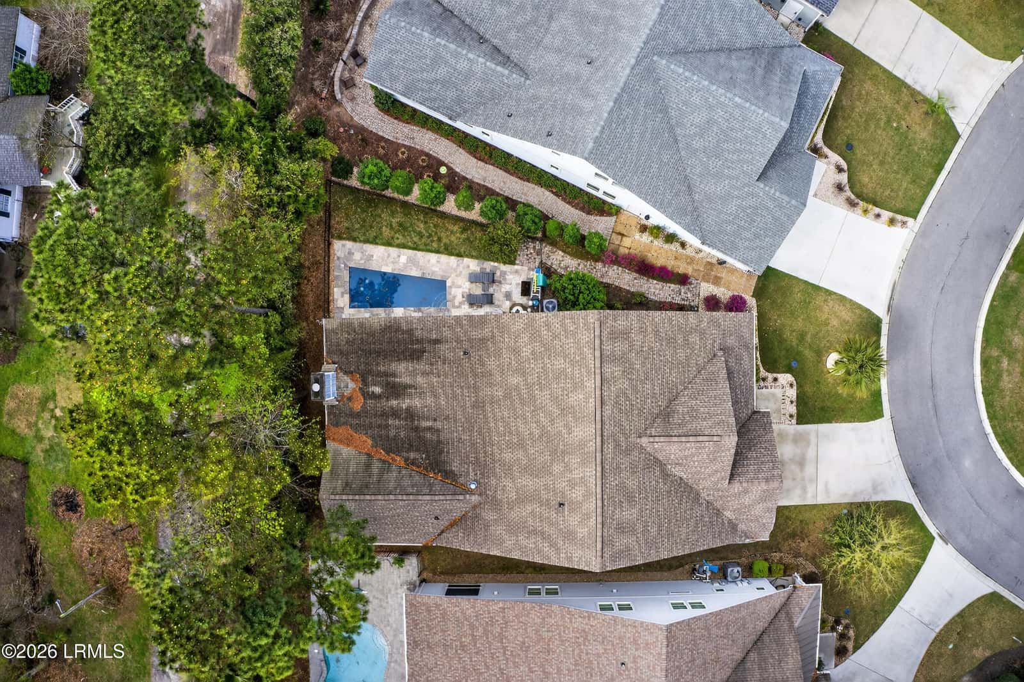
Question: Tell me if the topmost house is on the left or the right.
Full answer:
It is on the right.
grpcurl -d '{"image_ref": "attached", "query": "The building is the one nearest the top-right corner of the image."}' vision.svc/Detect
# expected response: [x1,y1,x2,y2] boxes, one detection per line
[765,0,839,31]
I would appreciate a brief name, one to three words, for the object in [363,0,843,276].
house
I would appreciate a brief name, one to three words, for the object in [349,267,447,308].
swimming pool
